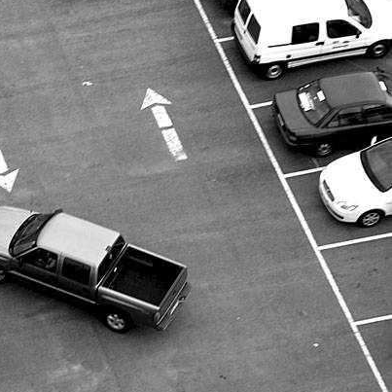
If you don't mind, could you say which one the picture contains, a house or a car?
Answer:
car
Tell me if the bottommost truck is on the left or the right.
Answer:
left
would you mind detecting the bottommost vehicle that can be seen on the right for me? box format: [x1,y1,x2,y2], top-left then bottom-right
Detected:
[320,138,392,226]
